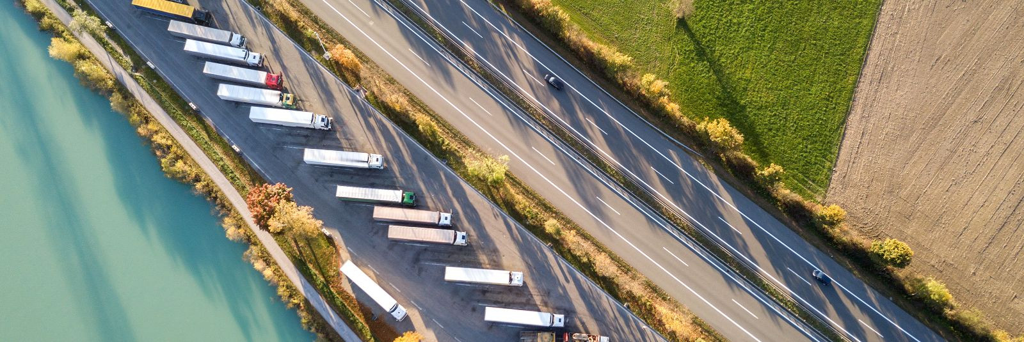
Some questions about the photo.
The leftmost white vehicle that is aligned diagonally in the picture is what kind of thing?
truck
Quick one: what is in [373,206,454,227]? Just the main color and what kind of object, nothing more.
white truck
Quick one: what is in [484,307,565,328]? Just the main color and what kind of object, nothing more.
white truck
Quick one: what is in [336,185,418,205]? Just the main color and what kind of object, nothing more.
white vehicle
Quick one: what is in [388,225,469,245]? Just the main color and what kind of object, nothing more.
white vehicle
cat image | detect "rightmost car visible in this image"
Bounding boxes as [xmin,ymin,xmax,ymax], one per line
[811,269,832,286]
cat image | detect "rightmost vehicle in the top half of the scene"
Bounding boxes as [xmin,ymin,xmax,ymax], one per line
[544,75,564,91]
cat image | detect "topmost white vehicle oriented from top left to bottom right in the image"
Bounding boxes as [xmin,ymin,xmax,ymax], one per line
[340,260,411,322]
